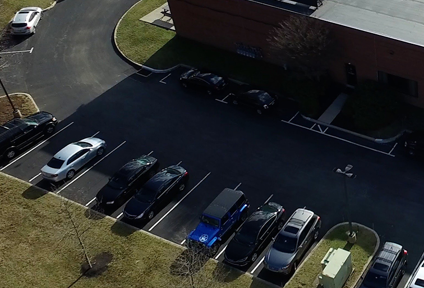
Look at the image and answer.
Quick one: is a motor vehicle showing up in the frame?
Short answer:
Yes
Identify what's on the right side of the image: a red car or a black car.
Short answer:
black car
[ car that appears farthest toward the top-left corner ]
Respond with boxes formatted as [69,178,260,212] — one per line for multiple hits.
[5,10,47,39]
